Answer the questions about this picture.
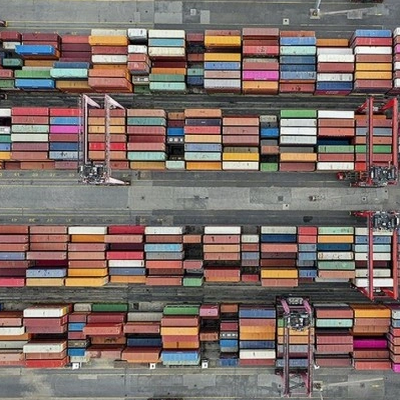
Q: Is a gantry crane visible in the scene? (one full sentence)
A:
Yes, there's a gantry crane here.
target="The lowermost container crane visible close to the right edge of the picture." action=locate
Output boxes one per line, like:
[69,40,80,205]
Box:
[348,209,400,301]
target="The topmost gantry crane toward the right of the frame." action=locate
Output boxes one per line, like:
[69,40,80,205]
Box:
[348,95,399,186]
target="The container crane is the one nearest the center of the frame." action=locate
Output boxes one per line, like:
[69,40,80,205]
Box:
[78,92,134,185]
